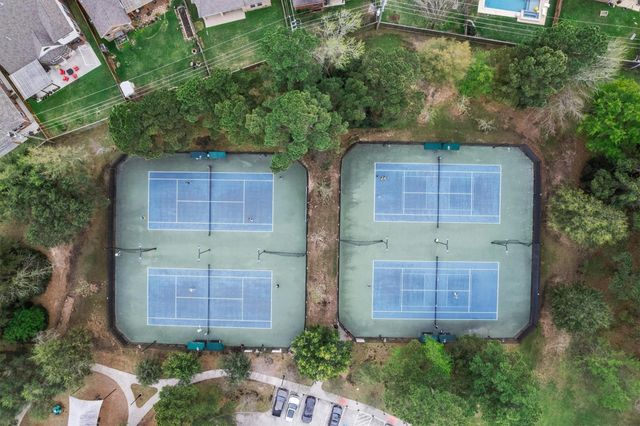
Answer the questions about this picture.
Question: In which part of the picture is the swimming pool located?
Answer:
top right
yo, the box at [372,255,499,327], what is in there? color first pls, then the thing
blue tennis court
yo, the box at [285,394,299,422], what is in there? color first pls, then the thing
white vehicle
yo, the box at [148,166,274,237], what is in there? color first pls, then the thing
blue tennis court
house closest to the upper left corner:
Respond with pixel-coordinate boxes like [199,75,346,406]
[0,0,85,76]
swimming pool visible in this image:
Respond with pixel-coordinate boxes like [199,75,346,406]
[478,0,547,25]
